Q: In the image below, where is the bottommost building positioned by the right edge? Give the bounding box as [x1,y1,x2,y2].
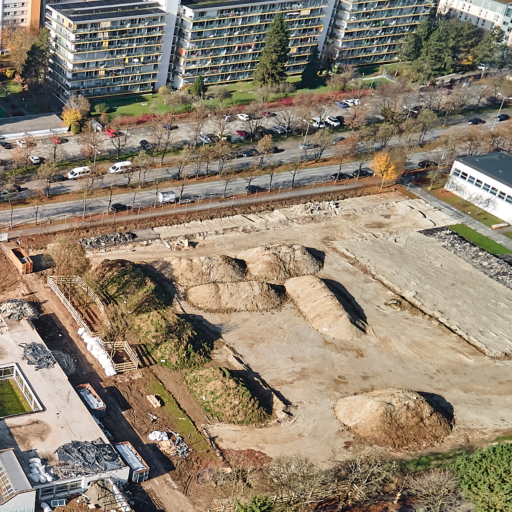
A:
[442,150,512,227]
